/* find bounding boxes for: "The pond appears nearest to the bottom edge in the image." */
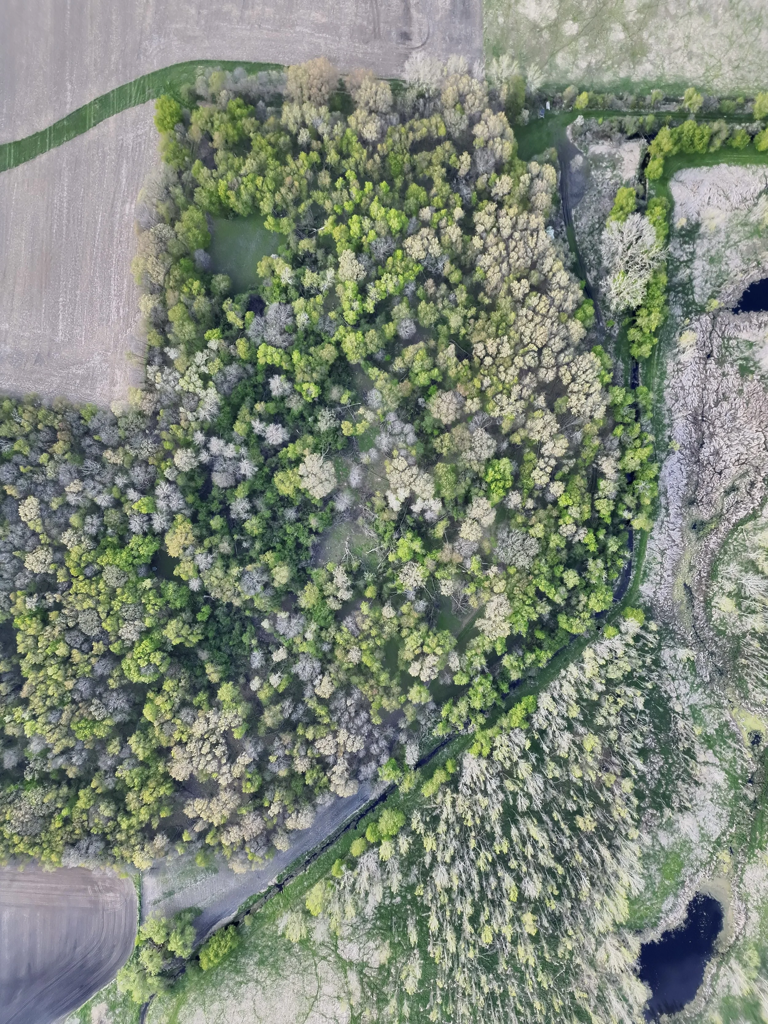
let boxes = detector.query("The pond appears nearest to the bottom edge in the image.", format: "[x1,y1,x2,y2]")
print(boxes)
[637,891,722,1024]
